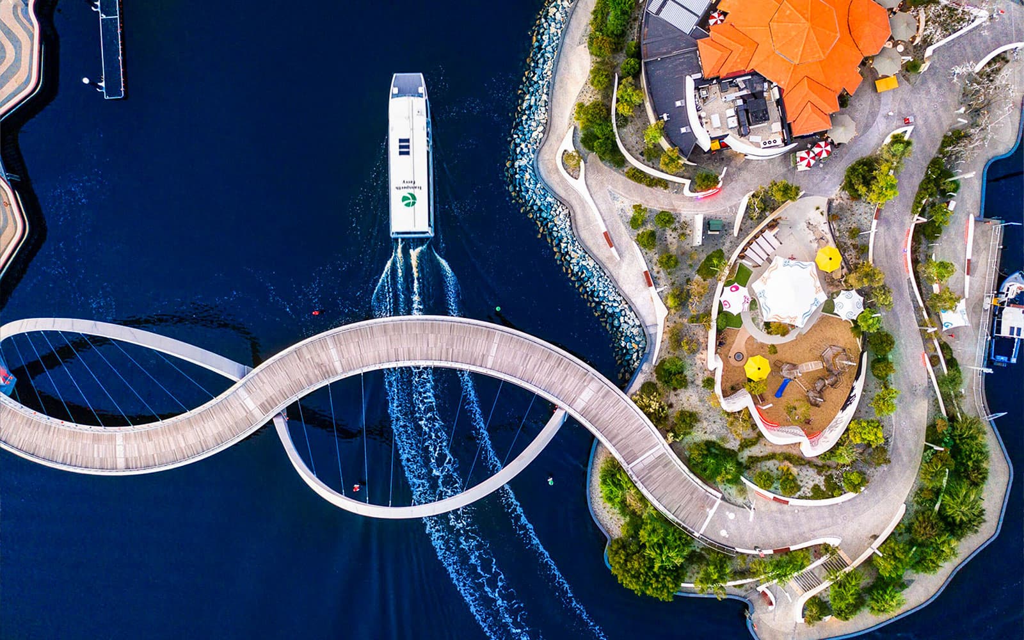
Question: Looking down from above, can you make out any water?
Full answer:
Yes, water shows up in the scene.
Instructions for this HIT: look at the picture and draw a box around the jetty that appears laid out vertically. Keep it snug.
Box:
[97,0,127,99]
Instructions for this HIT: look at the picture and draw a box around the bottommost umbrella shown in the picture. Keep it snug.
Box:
[745,355,770,381]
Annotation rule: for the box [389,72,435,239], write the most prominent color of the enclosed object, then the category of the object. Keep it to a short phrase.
white ship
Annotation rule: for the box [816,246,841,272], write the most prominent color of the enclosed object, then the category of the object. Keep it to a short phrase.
yellow umbrella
